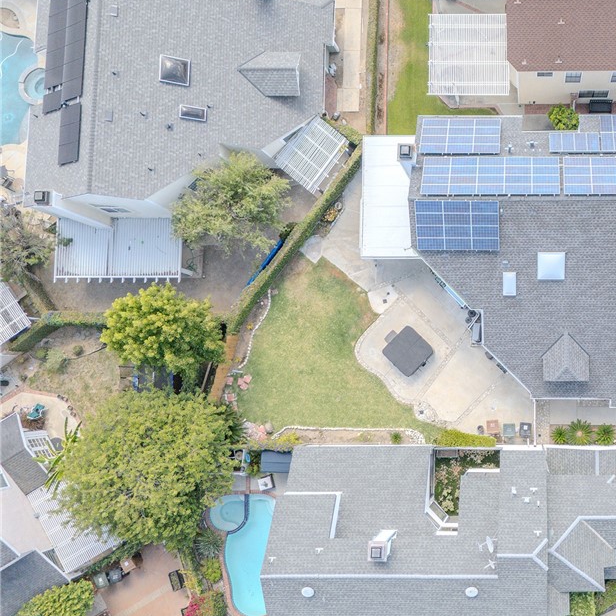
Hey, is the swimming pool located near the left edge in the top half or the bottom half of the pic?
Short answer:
top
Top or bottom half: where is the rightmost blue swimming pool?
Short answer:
bottom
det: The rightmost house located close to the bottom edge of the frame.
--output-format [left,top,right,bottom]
[260,444,616,616]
